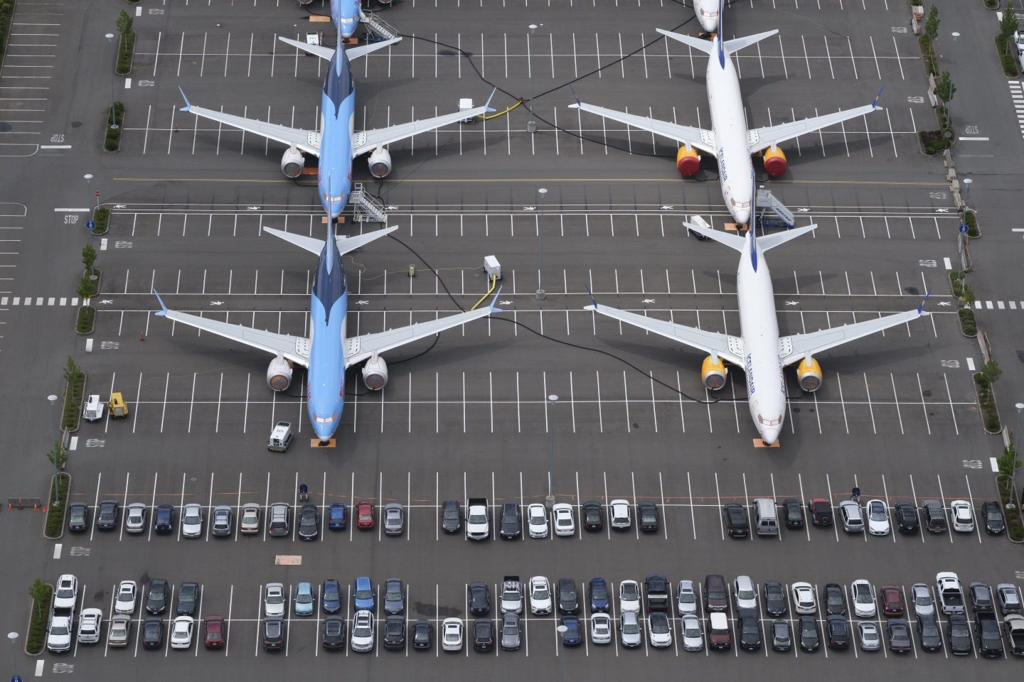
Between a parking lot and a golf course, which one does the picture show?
parking lot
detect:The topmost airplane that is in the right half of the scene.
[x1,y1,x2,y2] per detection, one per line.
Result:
[691,0,719,37]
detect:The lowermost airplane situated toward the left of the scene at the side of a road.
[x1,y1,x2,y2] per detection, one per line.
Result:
[154,166,502,444]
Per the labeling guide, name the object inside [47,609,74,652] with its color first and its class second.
white truck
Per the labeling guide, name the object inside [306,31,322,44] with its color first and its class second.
white vehicle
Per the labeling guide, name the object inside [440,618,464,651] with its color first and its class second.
white car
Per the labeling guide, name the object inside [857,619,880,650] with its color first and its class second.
gray car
